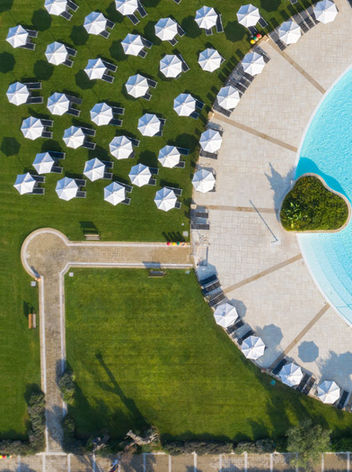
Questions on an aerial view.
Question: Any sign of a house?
No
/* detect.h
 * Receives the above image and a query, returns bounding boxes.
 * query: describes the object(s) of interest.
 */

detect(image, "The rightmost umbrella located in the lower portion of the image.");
[317,380,341,403]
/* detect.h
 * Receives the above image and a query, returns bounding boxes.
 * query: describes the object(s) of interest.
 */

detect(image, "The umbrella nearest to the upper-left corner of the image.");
[7,24,32,48]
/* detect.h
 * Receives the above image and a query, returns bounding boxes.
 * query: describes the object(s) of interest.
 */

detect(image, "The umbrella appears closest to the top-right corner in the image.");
[314,0,338,23]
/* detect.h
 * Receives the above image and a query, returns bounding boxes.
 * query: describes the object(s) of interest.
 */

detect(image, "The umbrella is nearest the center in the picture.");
[155,188,179,211]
